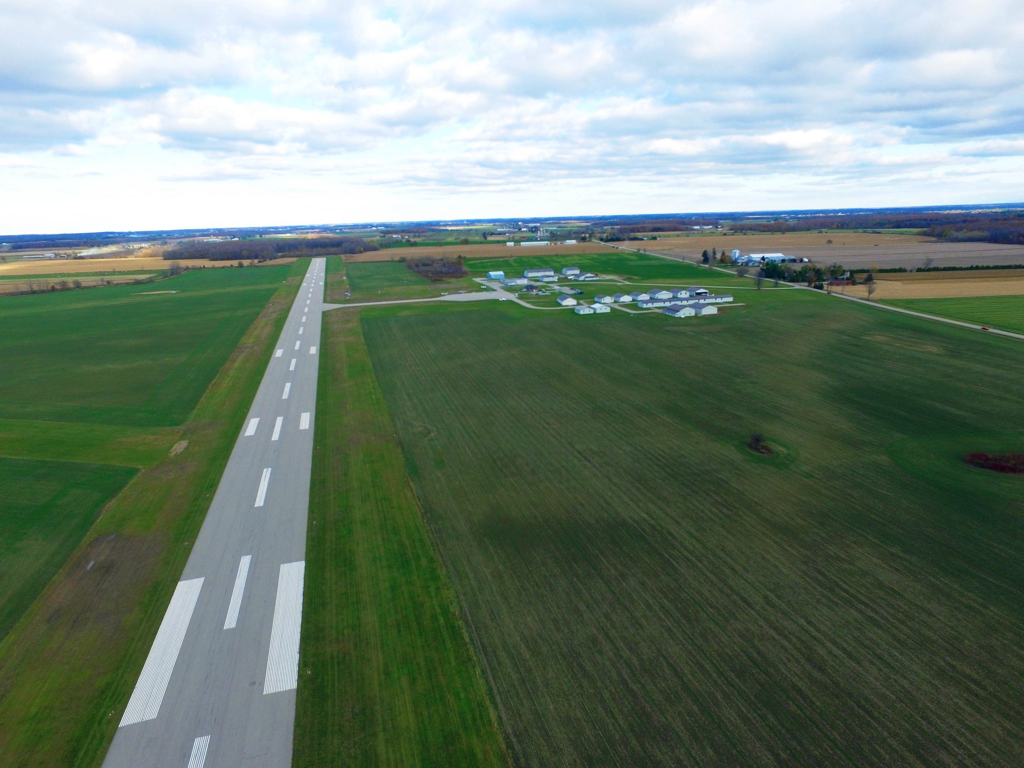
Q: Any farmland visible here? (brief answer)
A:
Yes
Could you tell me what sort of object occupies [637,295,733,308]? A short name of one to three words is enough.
hangar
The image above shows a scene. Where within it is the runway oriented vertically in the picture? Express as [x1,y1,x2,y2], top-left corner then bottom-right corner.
[102,258,325,768]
